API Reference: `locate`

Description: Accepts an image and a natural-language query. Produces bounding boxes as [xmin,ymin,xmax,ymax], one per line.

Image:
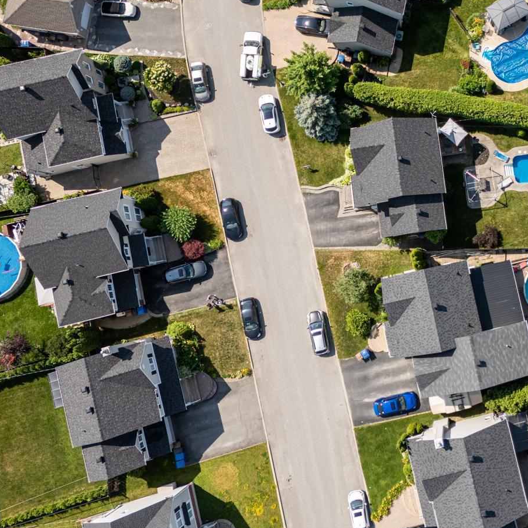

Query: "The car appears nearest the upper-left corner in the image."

[99,0,137,19]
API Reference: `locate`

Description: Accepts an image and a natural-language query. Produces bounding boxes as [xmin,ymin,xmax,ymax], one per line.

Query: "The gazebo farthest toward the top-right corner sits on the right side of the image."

[485,0,528,35]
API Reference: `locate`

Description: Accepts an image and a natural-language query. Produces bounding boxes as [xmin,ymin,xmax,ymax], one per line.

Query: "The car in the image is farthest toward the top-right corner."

[293,16,329,35]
